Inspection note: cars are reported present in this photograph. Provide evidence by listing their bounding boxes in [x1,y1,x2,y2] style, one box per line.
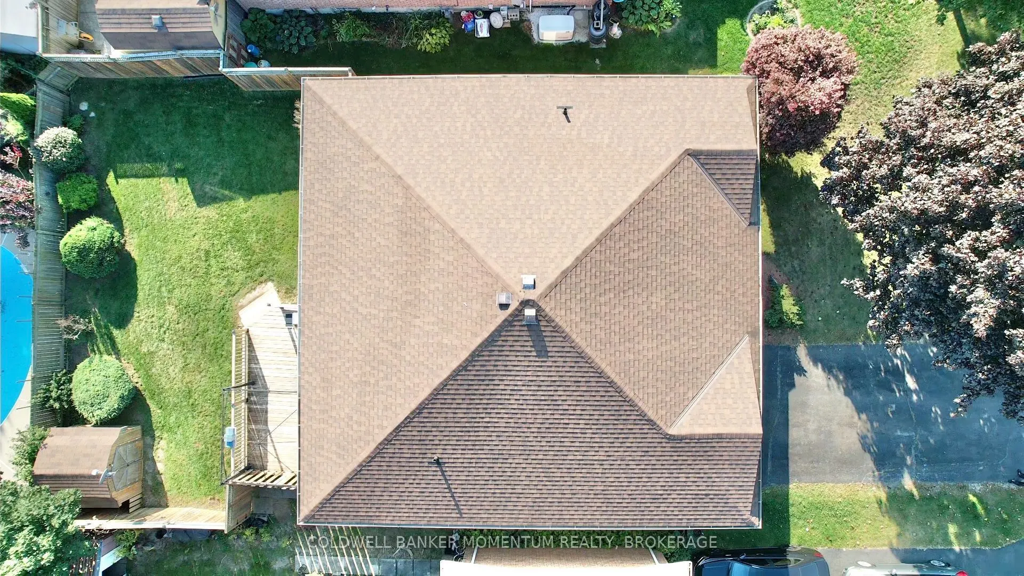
[694,544,835,576]
[836,560,979,576]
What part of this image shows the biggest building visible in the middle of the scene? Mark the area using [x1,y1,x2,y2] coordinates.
[298,75,762,528]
